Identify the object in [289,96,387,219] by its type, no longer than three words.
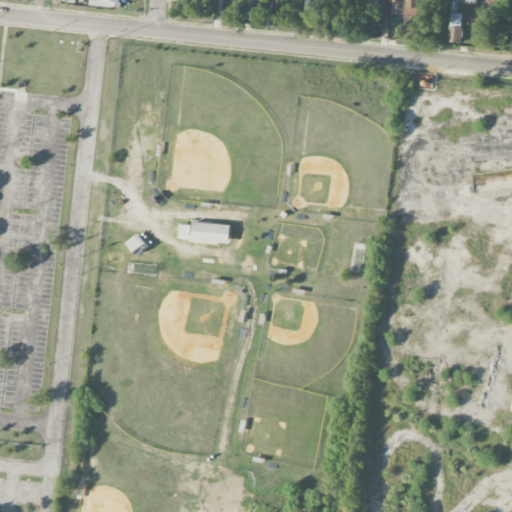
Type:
baseball field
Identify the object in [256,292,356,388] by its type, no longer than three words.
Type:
baseball field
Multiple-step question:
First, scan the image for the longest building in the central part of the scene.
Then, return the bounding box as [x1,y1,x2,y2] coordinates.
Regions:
[178,222,230,246]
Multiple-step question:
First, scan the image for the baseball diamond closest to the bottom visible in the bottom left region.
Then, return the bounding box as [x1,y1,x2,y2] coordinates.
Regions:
[80,466,171,512]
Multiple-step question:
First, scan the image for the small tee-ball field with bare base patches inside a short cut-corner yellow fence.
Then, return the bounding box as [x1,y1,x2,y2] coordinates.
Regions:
[270,224,324,270]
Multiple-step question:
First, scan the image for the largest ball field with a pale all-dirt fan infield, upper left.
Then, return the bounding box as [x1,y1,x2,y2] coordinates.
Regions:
[158,66,282,207]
